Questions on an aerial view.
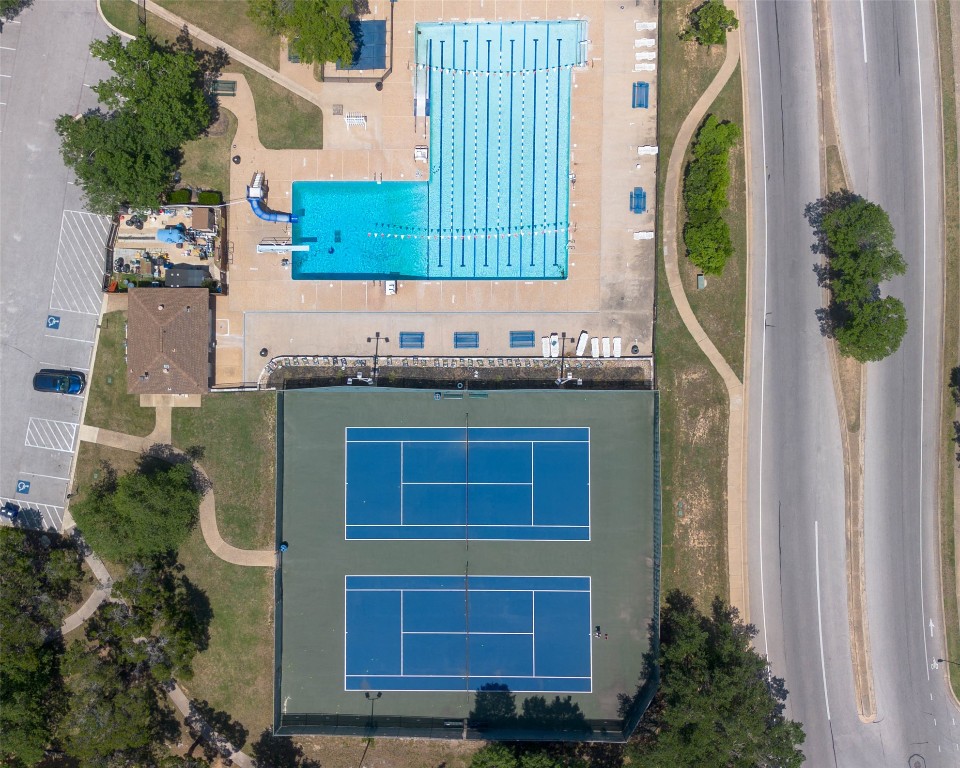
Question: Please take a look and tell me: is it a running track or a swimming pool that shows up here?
swimming pool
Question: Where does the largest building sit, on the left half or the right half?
left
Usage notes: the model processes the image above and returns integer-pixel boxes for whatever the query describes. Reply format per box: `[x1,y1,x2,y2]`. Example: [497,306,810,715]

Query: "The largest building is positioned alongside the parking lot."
[124,287,218,394]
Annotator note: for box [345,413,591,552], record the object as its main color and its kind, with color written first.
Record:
blue tennis court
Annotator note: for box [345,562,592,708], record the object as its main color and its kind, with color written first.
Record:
blue tennis court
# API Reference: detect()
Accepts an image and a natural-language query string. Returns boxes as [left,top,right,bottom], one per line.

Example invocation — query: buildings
[124,287,218,394]
[191,206,221,233]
